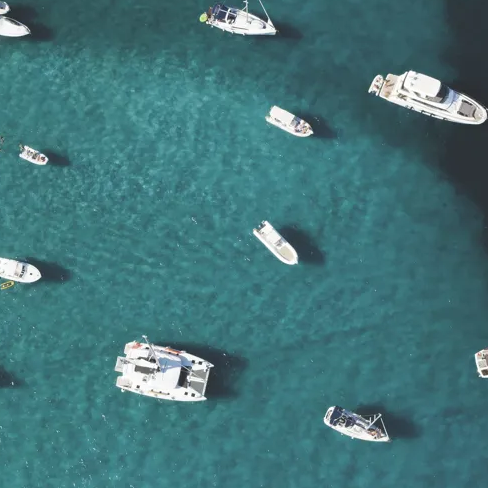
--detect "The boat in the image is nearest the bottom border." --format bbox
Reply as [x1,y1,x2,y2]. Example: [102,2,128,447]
[326,407,392,442]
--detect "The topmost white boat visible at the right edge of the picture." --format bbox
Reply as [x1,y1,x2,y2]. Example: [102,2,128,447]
[370,73,488,126]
